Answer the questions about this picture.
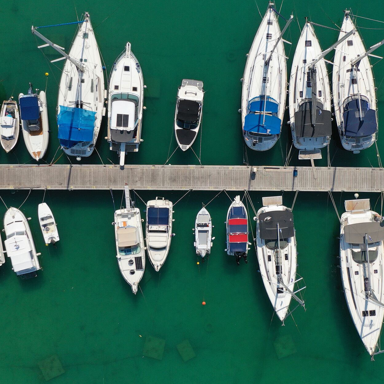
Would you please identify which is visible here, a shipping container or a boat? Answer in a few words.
boat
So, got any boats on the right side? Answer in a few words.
Yes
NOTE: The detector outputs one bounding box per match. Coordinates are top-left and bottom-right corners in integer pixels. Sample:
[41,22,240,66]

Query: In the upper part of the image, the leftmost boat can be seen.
[0,97,20,153]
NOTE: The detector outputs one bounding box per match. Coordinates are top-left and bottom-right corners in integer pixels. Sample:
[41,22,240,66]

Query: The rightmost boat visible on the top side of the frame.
[331,8,384,154]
